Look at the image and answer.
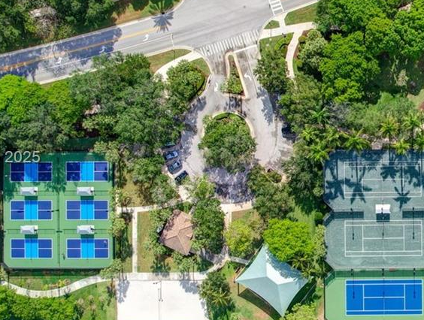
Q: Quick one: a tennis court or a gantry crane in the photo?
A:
tennis court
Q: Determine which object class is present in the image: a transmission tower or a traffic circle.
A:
traffic circle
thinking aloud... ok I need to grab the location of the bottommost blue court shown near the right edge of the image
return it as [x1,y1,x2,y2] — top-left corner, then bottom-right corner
[325,271,424,320]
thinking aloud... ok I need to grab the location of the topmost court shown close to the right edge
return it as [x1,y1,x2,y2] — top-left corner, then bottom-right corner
[325,150,424,209]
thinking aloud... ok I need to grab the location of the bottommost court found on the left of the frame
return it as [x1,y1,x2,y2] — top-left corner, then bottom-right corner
[116,279,209,320]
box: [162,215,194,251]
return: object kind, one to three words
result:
building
